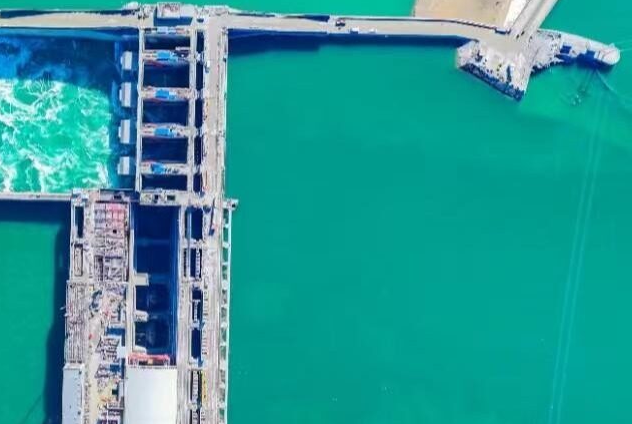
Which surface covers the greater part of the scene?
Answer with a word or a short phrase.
water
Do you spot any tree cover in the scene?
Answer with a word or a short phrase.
No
